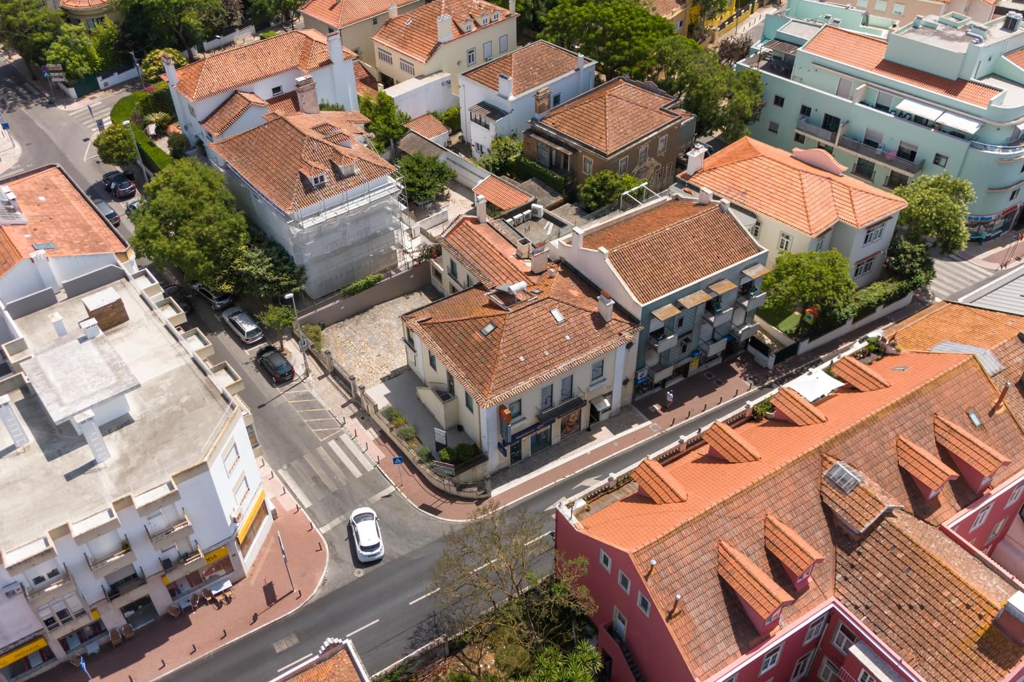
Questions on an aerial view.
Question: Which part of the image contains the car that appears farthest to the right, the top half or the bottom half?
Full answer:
You can find the car that appears farthest to the right in the bottom half.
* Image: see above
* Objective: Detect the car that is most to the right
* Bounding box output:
[348,507,382,563]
